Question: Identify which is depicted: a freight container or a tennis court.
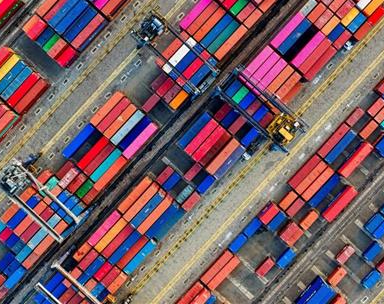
freight container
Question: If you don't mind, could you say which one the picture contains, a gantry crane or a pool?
gantry crane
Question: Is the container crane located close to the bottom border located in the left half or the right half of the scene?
left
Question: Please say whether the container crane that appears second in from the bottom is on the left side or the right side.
left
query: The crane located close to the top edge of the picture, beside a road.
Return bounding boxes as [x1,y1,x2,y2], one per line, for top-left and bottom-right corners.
[127,6,221,101]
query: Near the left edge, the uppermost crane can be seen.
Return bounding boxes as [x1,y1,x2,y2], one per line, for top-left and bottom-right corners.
[0,147,101,242]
